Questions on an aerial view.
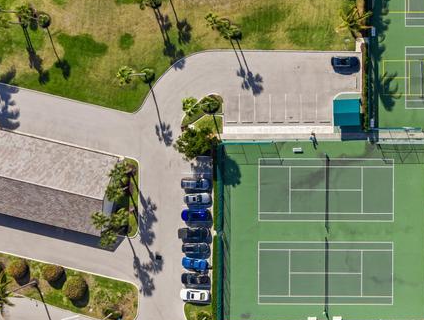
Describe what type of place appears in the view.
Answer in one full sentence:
This looks like a sports ground.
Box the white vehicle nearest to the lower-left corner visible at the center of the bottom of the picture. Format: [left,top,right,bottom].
[183,288,210,303]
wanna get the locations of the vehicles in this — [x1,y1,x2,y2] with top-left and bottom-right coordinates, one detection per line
[184,192,213,206]
[184,272,210,287]
[183,288,210,303]
[183,256,209,270]
[182,177,212,191]
[182,243,211,257]
[176,227,211,242]
[183,209,210,222]
[332,56,359,70]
